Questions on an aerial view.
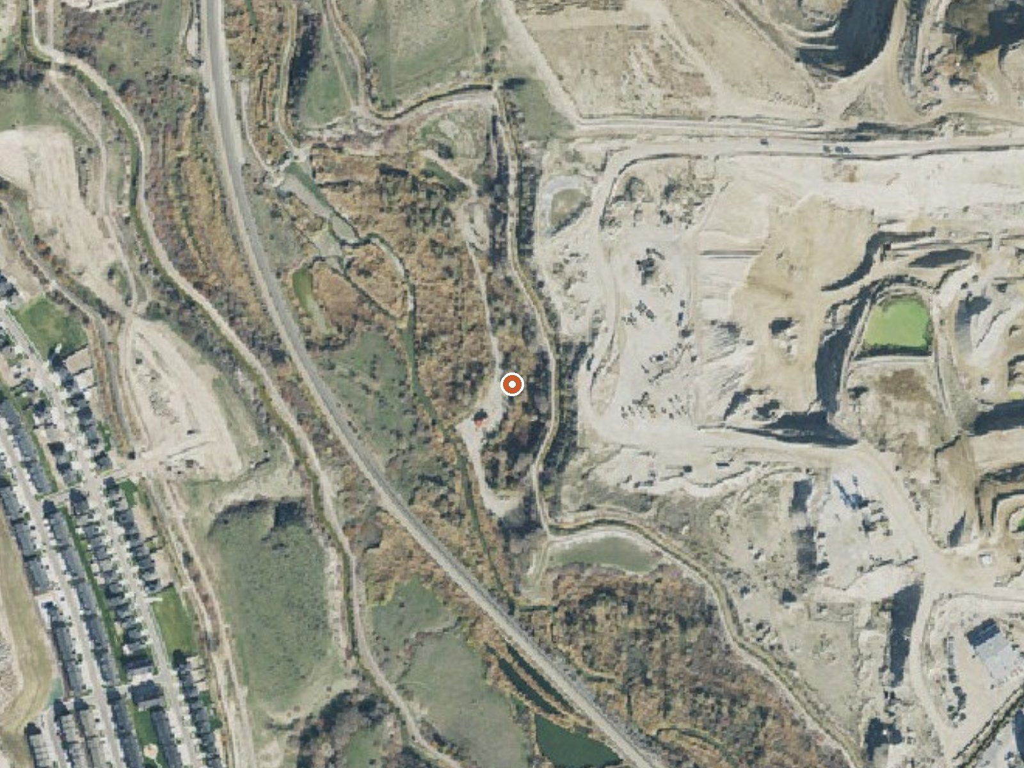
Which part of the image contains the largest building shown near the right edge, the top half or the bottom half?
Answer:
bottom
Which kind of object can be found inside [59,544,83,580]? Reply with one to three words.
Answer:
house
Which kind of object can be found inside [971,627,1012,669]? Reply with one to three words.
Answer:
building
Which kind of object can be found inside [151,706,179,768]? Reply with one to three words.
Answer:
house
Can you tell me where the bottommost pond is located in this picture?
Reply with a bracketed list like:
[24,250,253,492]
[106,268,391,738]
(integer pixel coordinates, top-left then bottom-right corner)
[536,715,620,768]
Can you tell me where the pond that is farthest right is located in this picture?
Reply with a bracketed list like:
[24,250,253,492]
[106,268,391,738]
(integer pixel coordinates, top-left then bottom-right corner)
[864,297,930,348]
